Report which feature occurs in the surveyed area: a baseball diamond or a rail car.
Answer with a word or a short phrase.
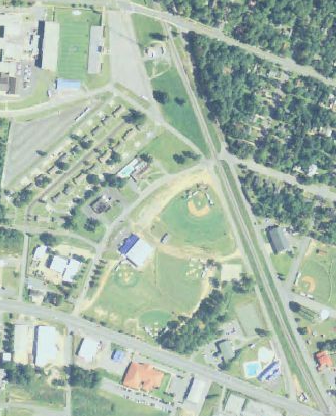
baseball diamond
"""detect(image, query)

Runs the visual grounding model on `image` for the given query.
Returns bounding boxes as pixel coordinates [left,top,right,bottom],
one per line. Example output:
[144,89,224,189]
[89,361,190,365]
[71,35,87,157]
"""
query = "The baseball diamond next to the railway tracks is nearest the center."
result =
[157,186,237,255]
